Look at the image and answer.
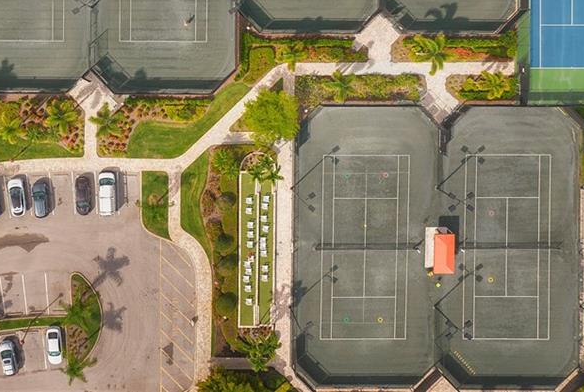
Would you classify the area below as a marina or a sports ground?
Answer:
sports ground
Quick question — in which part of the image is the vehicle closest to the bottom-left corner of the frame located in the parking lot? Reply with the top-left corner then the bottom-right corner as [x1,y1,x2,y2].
[0,338,18,377]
